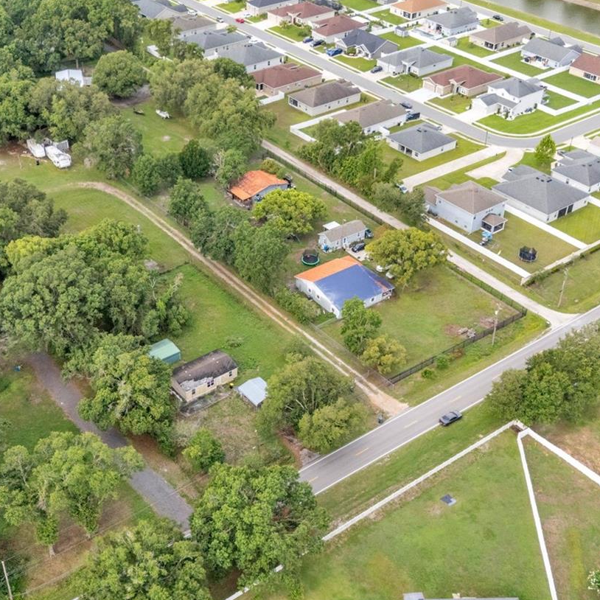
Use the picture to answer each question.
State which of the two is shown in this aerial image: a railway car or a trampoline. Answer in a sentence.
Looking from above, you can make out a trampoline.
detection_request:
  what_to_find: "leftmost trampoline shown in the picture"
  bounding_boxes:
[301,248,320,265]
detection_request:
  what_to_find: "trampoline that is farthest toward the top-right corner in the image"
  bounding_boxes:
[518,244,538,261]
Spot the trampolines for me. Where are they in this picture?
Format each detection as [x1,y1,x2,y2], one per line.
[301,248,320,265]
[518,244,538,261]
